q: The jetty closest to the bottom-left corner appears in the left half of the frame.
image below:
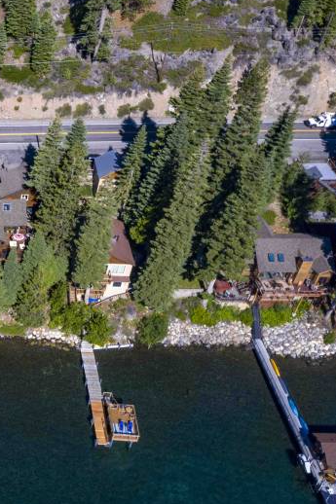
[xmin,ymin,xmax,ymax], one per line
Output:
[78,337,109,451]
